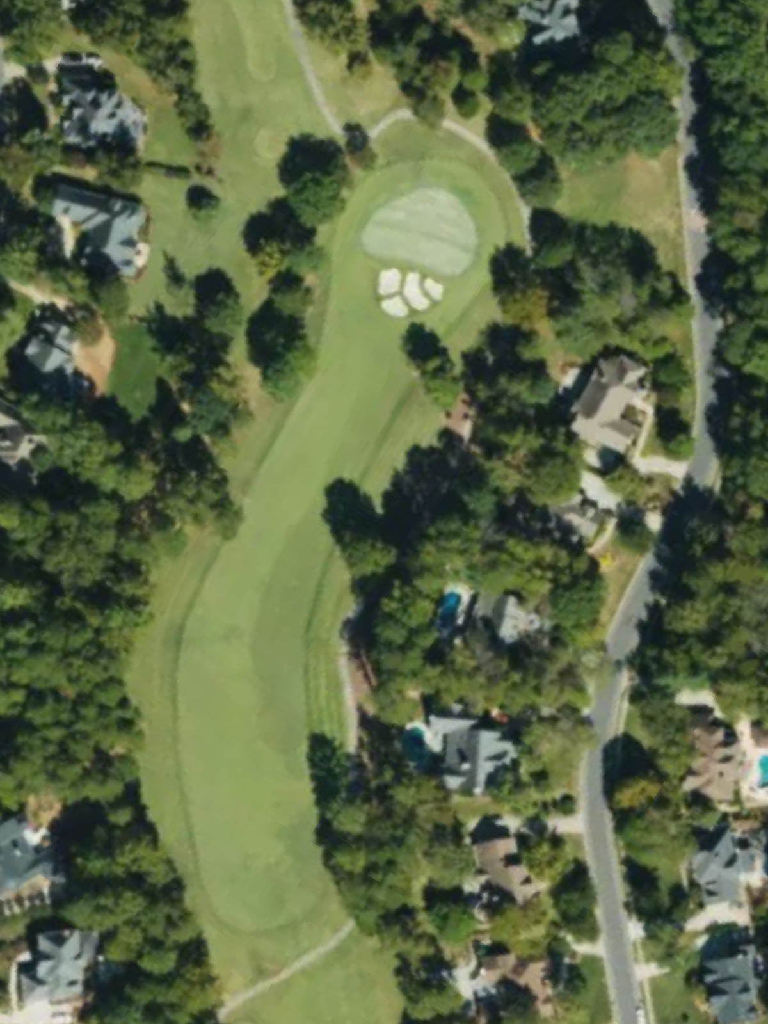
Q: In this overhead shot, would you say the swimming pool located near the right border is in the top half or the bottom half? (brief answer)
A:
bottom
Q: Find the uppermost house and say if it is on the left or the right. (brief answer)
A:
right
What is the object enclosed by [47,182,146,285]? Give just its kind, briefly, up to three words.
house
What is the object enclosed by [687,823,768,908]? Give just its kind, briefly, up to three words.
house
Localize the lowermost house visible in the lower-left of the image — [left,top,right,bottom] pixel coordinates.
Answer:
[17,930,96,1005]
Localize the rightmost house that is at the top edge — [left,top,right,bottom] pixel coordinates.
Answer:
[518,0,582,47]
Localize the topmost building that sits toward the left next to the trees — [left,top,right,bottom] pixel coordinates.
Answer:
[57,74,145,148]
